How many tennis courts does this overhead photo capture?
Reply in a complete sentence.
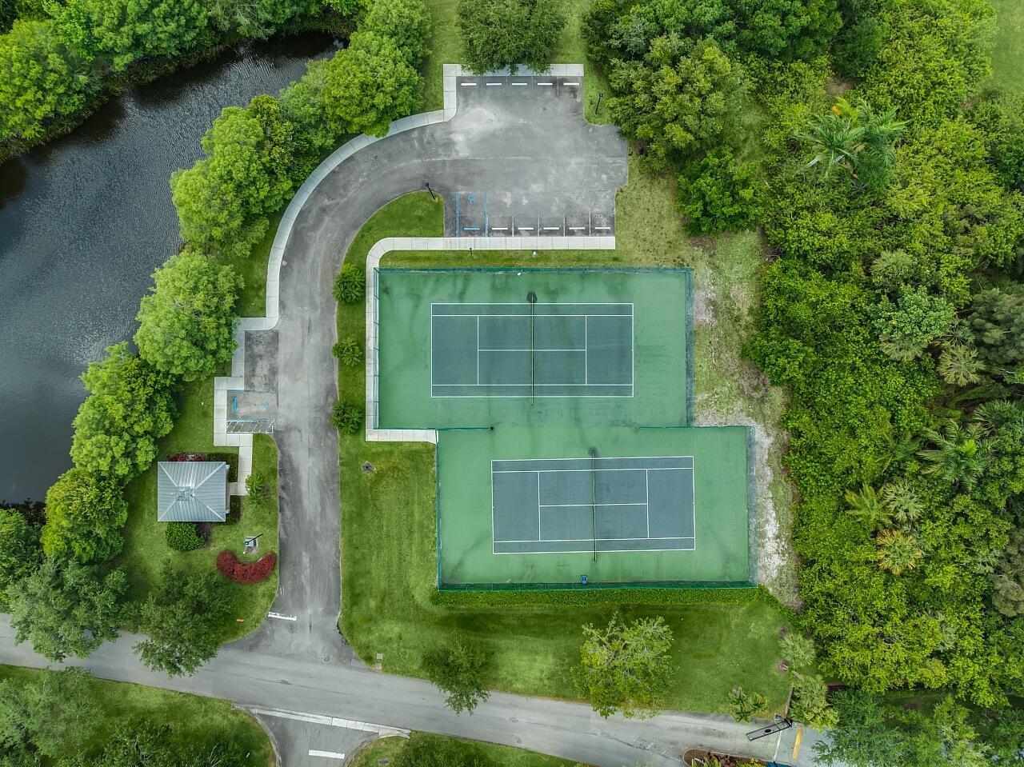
The picture shows 2 tennis courts.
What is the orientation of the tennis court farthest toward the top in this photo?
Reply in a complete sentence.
From this overhead view, the tennis court farthest toward the top appears to run horizontally.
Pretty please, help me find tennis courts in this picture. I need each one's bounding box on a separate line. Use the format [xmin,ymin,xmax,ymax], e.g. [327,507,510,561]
[379,273,687,430]
[438,428,750,585]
